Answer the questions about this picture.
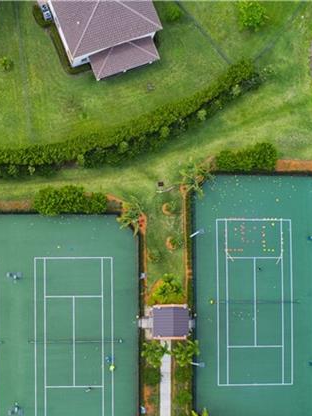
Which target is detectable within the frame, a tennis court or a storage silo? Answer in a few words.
tennis court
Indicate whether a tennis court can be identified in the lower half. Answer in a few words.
Yes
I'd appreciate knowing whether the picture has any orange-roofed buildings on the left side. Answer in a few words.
No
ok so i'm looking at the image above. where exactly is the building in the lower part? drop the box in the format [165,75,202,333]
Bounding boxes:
[149,304,189,341]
